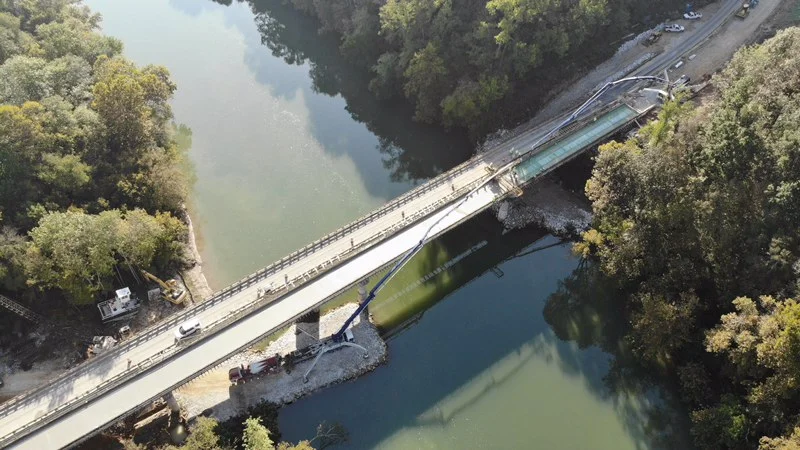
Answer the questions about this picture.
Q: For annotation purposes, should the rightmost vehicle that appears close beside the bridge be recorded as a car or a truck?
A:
truck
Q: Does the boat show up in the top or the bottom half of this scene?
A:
bottom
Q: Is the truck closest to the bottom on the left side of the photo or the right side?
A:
left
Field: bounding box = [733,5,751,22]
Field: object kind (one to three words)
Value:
work vehicle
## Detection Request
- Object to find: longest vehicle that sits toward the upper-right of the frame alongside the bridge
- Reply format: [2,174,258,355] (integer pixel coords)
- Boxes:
[525,69,695,169]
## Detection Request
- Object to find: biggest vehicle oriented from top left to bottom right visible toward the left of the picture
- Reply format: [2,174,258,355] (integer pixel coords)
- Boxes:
[141,273,191,306]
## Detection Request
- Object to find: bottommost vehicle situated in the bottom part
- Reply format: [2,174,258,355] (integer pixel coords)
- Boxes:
[228,349,285,381]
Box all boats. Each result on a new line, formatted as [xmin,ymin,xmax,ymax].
[98,287,146,321]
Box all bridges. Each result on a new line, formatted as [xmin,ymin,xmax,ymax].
[0,128,552,450]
